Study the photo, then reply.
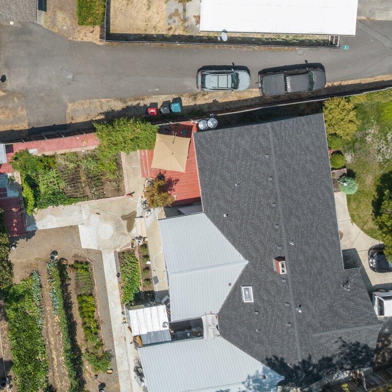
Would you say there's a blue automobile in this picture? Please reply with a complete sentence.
No, there is no blue automobile in the image.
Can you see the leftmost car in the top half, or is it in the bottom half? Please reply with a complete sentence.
The top half of the photo is where the leftmost car is.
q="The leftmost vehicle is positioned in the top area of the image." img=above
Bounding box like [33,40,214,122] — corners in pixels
[195,67,251,93]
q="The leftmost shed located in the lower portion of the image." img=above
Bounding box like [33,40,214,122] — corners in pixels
[122,296,171,347]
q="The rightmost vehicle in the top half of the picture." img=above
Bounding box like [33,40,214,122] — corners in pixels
[256,67,327,96]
